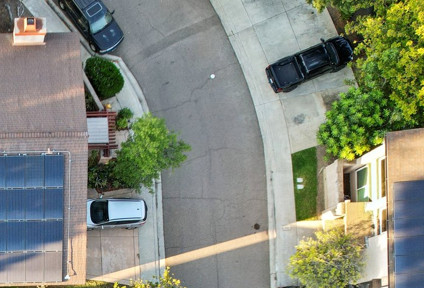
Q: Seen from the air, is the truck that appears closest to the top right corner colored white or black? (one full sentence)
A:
The truck that appears closest to the top right corner is black.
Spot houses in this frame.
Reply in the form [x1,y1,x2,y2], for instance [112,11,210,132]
[0,16,88,288]
[324,126,424,288]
